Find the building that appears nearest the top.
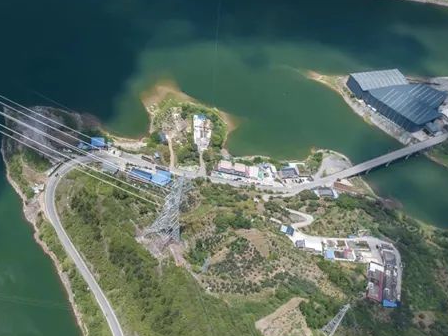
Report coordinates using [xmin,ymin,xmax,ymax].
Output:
[344,69,407,101]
